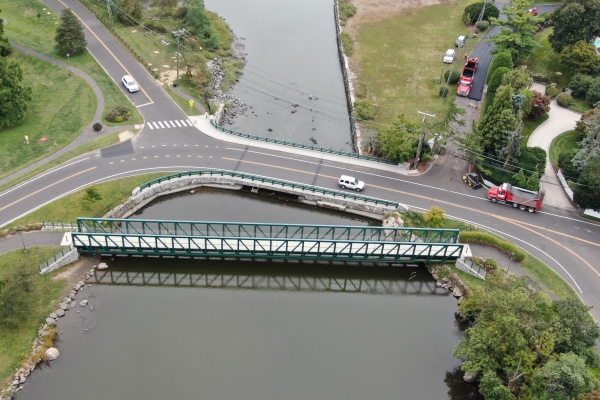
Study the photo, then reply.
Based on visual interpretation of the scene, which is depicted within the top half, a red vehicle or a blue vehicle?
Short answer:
red vehicle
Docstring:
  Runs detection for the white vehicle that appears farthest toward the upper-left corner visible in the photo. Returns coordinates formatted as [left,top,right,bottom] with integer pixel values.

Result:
[122,74,138,91]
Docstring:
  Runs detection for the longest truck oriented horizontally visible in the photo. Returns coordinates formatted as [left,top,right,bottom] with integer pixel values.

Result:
[488,184,541,213]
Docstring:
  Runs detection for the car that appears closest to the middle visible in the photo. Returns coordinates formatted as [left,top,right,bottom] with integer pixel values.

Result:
[338,175,365,192]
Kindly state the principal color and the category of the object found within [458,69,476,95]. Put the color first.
red vehicle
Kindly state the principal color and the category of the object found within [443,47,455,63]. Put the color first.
white vehicle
